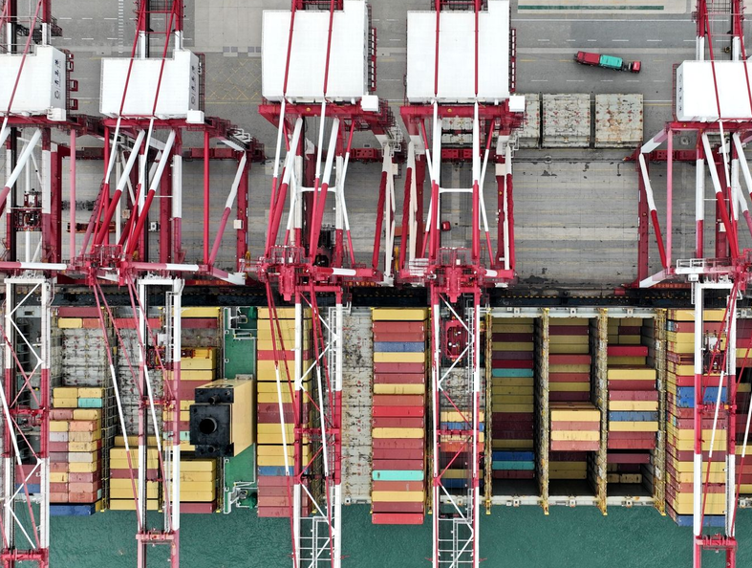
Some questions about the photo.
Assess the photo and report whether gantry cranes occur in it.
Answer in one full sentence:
Yes, looking at the shot, I can spot a gantry crane.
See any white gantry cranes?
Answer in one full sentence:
Yes, looking at the shot, I can spot a white gantry crane.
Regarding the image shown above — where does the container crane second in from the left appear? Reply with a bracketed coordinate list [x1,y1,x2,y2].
[84,0,270,568]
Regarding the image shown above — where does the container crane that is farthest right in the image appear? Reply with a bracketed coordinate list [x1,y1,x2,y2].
[619,0,752,568]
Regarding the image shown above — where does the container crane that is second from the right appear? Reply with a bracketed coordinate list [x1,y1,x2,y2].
[401,0,527,568]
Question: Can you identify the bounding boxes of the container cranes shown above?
[619,0,752,568]
[84,0,270,568]
[261,0,397,568]
[401,0,527,568]
[0,0,163,568]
